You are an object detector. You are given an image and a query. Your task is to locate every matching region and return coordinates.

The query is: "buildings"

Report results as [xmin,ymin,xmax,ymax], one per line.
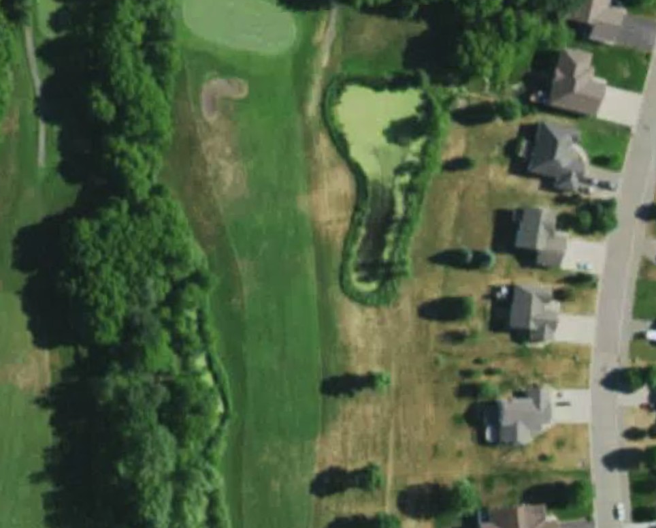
[501,281,561,342]
[519,115,589,196]
[482,501,561,528]
[536,44,610,123]
[485,384,556,445]
[570,0,630,28]
[514,207,568,269]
